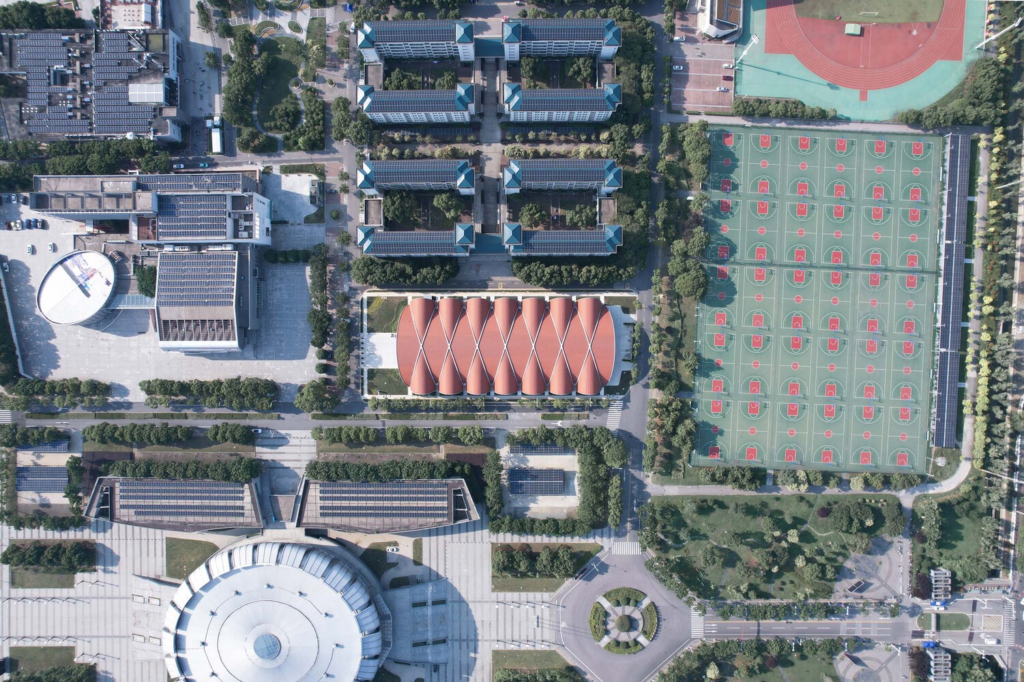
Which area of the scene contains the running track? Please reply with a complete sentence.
You can find the running track in the top right area of the picture.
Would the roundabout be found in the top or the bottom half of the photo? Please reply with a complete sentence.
It is in the bottom half that the roundabout appears.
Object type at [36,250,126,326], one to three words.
building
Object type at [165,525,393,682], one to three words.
stadium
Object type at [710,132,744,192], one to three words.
basketball court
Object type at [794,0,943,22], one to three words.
sports field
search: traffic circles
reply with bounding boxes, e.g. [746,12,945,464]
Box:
[589,587,657,654]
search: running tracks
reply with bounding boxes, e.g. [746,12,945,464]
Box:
[765,0,966,101]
